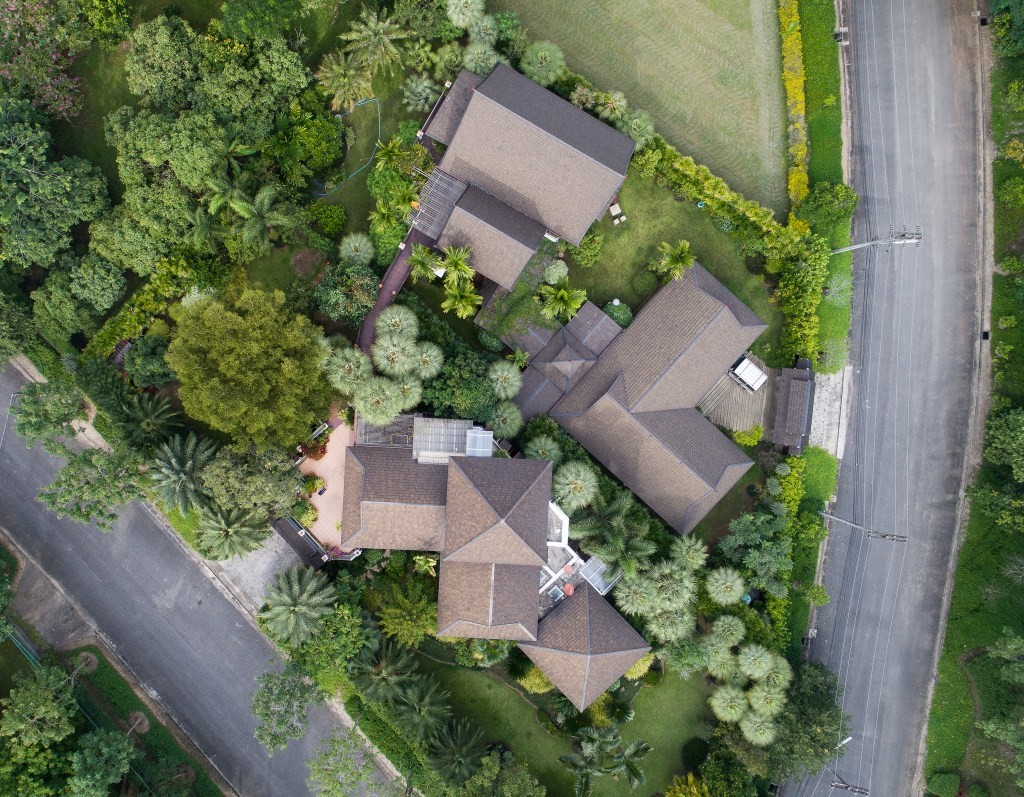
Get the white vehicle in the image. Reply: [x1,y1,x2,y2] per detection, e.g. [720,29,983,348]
[728,351,770,392]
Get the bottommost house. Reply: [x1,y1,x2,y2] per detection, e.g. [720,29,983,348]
[340,417,652,713]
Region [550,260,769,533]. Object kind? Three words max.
house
